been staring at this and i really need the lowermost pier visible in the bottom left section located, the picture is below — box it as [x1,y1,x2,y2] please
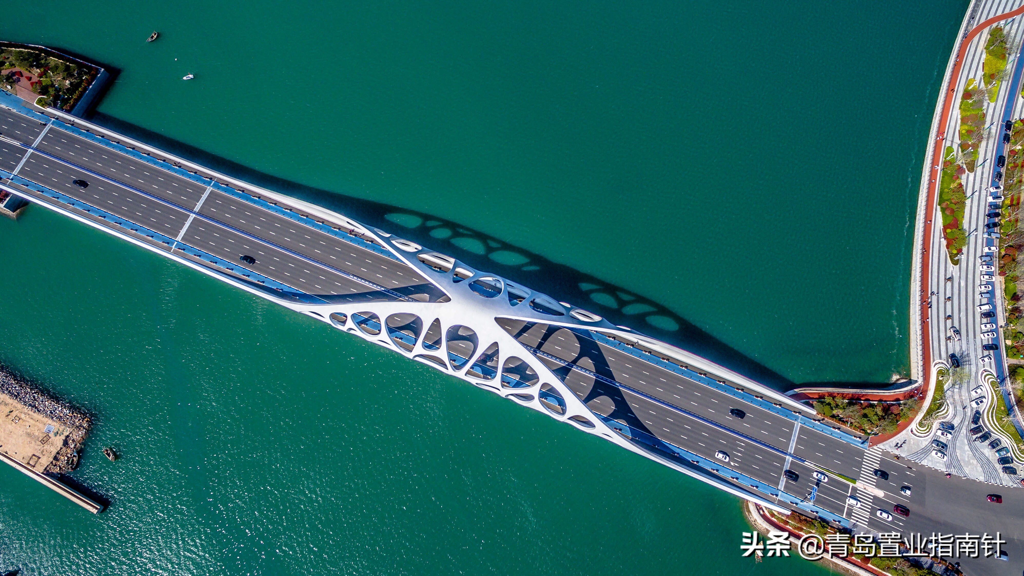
[0,449,111,513]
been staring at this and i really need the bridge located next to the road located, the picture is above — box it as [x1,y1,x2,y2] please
[0,102,869,527]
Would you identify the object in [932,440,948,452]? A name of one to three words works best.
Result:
vehicle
